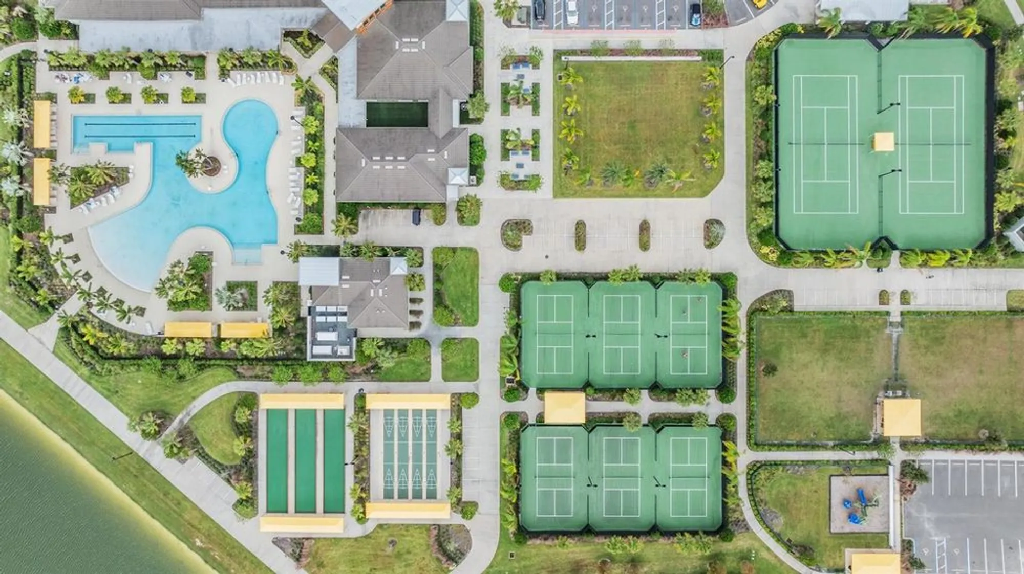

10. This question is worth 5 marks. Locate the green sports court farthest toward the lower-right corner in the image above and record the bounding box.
[656,428,722,531]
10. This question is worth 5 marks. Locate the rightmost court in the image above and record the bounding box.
[880,39,987,249]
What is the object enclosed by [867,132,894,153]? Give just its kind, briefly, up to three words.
building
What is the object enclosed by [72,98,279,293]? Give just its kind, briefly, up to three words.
swimming pool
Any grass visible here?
Yes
